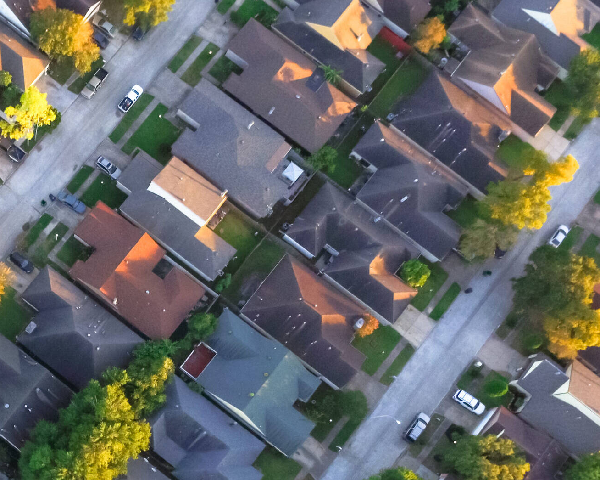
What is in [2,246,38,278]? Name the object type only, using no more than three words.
car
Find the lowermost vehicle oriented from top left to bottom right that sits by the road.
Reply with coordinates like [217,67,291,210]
[450,386,486,417]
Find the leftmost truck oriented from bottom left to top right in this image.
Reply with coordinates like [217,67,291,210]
[76,61,114,104]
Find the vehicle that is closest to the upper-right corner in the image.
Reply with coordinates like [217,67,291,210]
[545,219,572,242]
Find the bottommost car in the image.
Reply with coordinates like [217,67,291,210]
[398,409,433,446]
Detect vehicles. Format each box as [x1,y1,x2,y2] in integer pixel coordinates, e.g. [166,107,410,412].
[450,386,486,417]
[110,78,148,121]
[545,219,572,242]
[89,150,123,183]
[2,246,38,278]
[92,28,119,55]
[0,131,30,168]
[76,61,114,104]
[53,187,88,218]
[93,9,125,39]
[398,409,433,446]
